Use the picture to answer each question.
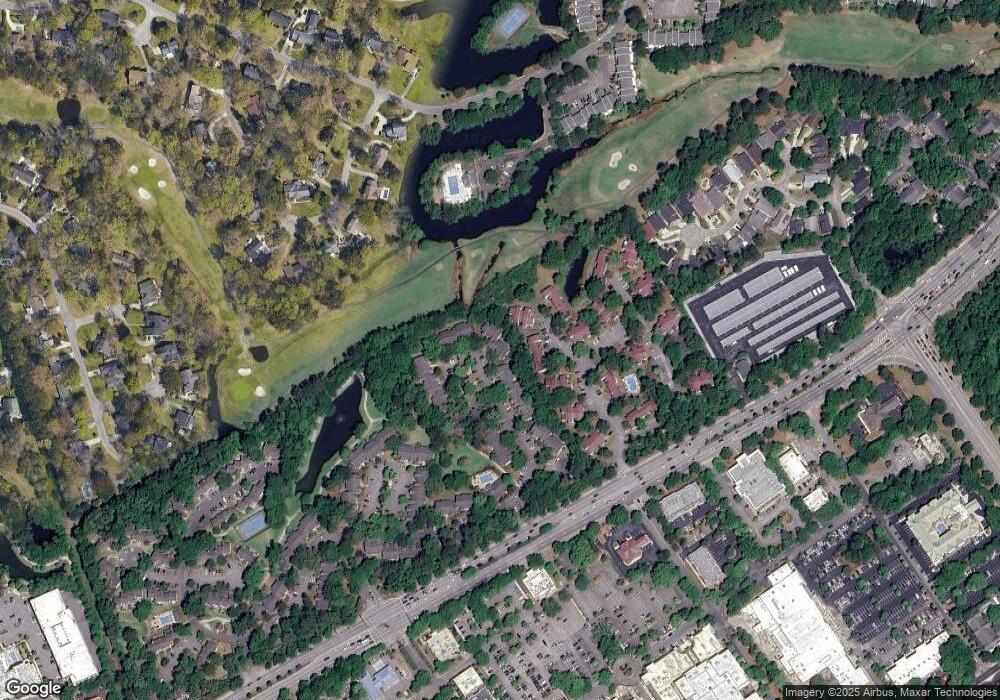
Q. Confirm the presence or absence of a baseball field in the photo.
No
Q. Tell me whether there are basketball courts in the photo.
No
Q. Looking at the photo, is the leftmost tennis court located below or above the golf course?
below it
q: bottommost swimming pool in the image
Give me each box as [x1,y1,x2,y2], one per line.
[149,611,176,629]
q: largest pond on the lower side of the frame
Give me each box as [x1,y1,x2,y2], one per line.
[295,374,363,496]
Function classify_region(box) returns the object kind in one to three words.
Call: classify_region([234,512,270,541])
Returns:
tennis court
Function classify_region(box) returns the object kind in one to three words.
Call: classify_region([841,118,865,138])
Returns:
house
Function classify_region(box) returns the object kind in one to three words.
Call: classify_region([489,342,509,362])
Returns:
building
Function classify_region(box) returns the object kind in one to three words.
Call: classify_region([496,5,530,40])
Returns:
tennis court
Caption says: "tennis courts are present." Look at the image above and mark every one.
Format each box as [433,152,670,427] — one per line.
[496,5,530,40]
[234,512,270,541]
